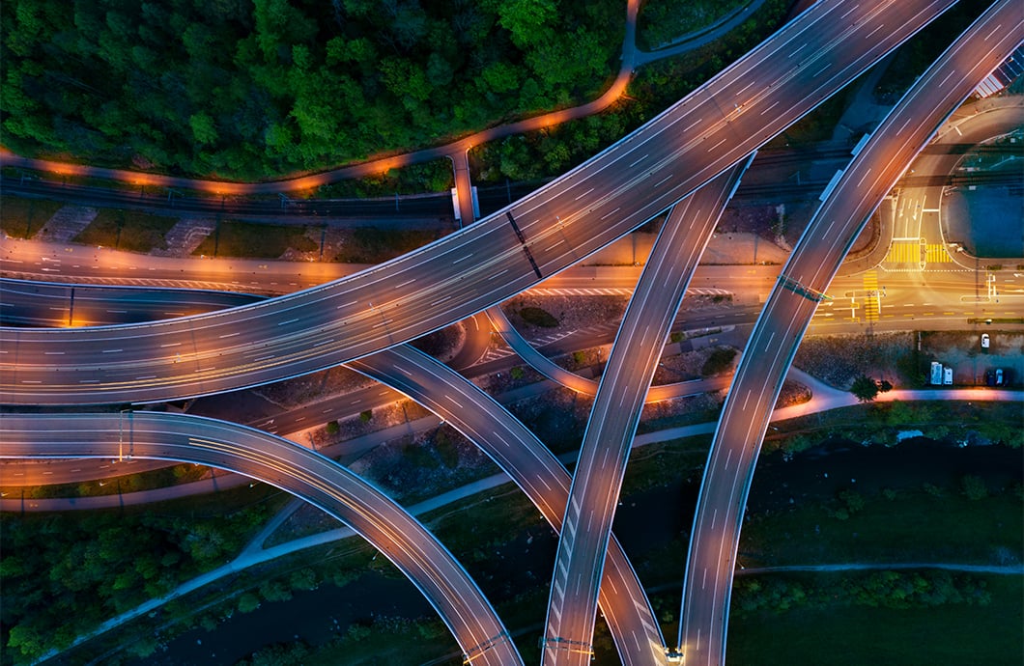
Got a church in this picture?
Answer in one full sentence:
No, there appears to be no church in this shot.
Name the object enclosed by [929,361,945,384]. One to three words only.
vehicle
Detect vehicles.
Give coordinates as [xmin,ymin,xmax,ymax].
[944,367,955,384]
[994,369,1003,384]
[929,361,945,384]
[986,370,995,385]
[1003,370,1012,385]
[980,333,990,347]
